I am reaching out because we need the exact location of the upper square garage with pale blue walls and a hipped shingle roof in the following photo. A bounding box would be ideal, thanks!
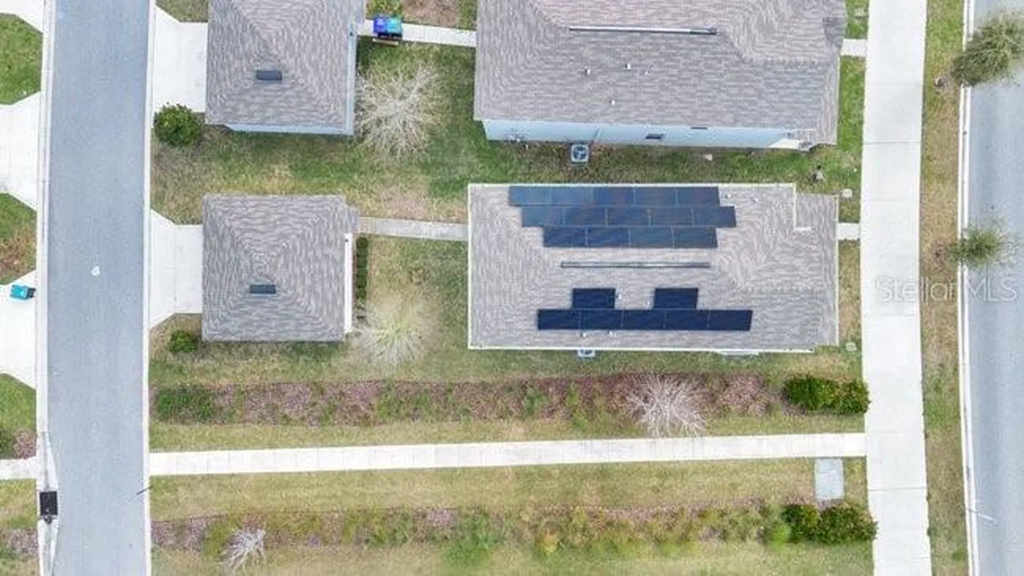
[206,0,369,133]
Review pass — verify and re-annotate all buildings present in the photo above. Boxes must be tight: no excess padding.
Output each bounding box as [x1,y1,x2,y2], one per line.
[202,193,360,342]
[466,182,840,356]
[206,0,369,133]
[474,0,860,153]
